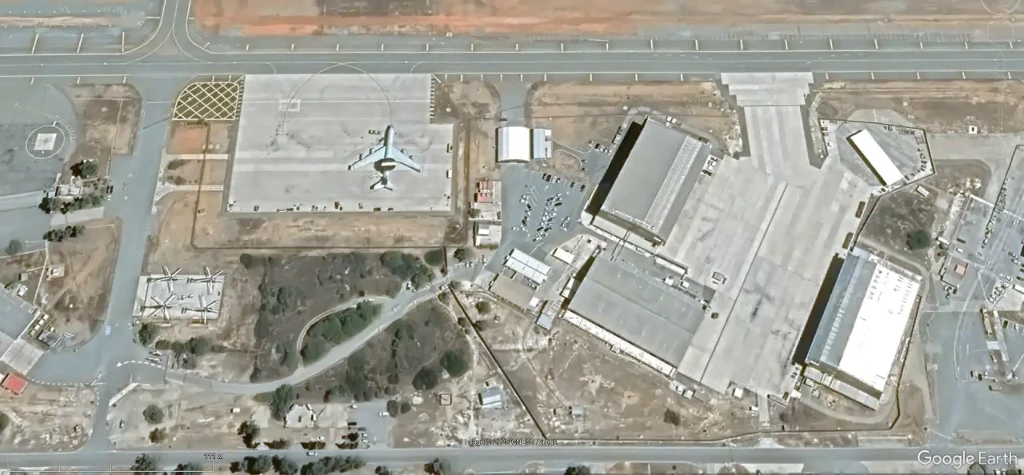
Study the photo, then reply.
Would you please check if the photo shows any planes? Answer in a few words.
Yes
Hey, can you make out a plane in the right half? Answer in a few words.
No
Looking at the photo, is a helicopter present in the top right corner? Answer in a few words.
No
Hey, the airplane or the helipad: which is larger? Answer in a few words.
the airplane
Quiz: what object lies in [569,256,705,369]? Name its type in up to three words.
hangar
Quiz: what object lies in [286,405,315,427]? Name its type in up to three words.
house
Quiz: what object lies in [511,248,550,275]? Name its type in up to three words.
building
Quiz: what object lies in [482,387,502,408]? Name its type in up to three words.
shed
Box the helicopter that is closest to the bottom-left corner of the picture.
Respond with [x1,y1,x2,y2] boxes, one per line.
[140,293,181,321]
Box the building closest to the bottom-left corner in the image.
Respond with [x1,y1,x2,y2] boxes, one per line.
[3,373,27,395]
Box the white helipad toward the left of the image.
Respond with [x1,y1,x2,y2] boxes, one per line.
[26,122,65,159]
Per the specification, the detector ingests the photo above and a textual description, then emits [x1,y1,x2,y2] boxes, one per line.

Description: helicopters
[146,264,187,293]
[181,294,221,325]
[186,263,227,294]
[140,293,181,321]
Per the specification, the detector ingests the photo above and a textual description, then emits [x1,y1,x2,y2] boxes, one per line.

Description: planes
[349,126,422,190]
